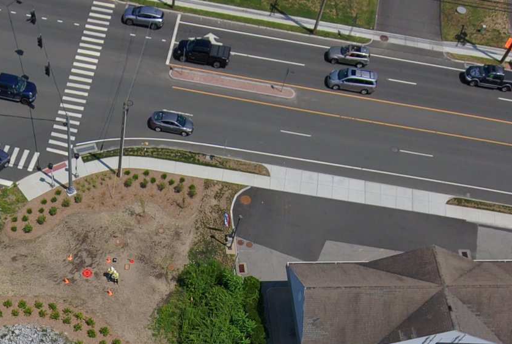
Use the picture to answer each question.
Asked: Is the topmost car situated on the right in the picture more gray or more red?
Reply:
gray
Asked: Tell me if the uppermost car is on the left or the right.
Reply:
left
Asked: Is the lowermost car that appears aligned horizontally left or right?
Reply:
left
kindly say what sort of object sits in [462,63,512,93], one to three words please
truck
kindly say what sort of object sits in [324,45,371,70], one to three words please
car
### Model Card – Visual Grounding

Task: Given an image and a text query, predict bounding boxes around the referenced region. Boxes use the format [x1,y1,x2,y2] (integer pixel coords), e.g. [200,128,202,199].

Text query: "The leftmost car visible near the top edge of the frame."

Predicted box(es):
[121,5,164,30]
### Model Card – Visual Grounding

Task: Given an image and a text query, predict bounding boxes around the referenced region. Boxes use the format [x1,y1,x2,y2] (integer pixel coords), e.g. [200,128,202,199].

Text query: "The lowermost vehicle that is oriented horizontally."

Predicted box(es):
[147,112,195,139]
